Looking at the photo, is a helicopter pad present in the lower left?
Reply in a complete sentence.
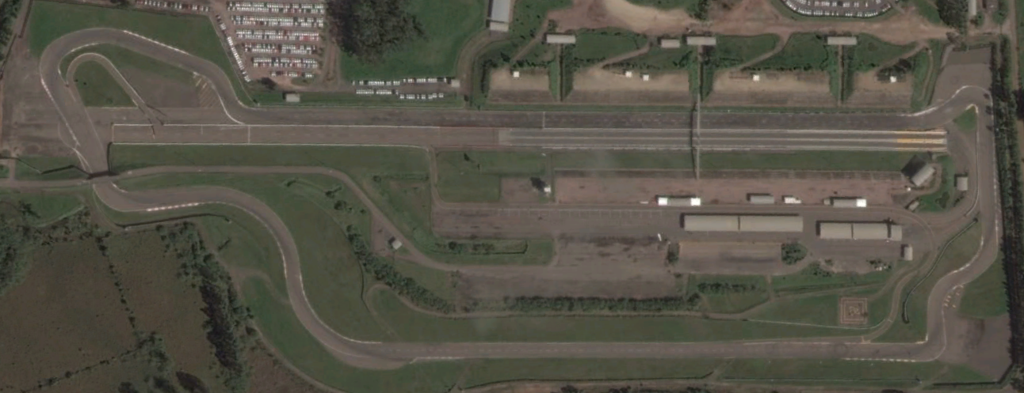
No, looking in the lower left, there is no helicopter pad.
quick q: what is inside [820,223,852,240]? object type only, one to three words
building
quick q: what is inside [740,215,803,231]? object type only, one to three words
building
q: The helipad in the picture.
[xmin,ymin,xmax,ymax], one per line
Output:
[840,298,868,325]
